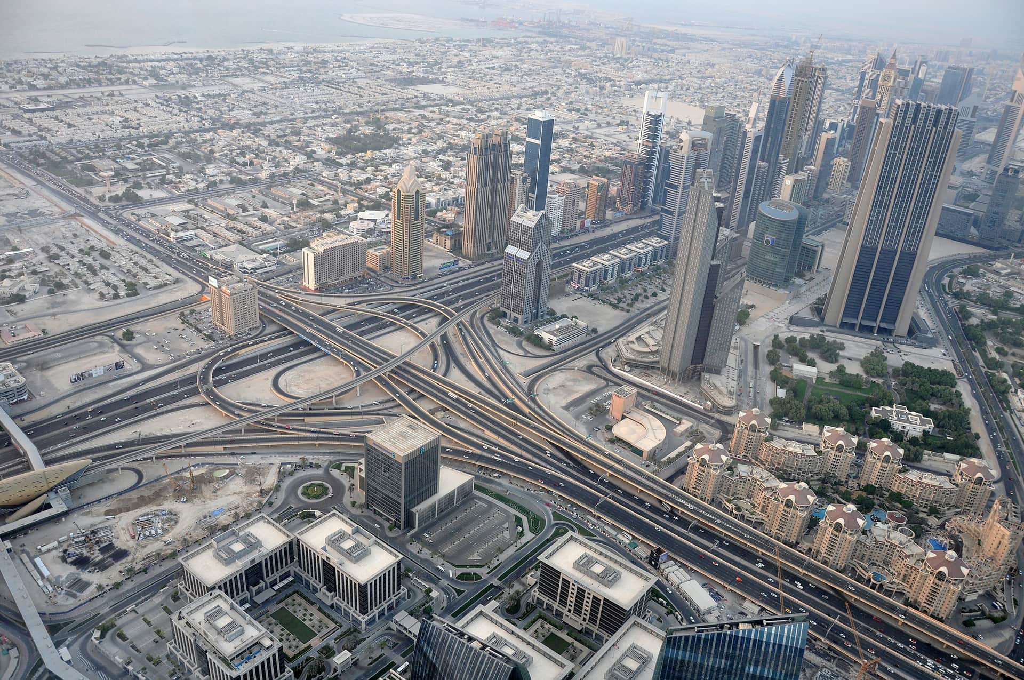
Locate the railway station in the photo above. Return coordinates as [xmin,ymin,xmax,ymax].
[0,458,91,521]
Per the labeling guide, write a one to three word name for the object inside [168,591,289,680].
building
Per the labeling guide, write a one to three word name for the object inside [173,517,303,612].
building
